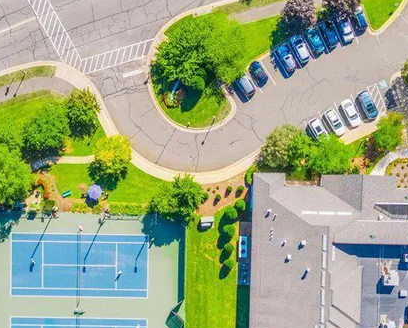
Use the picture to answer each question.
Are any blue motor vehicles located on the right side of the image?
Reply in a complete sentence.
Yes, I can see a blue motor vehicle on the right side of the image.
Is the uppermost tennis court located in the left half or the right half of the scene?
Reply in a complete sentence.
You can find the uppermost tennis court on the left side of the picture.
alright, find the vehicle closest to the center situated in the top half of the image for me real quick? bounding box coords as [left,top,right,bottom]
[234,71,257,101]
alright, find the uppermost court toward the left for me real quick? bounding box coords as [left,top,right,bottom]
[0,213,185,307]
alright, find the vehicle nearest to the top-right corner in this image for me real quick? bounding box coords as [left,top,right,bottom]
[352,7,370,35]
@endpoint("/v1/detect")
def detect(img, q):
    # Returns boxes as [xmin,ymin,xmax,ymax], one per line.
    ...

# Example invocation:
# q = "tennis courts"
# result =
[0,213,185,307]
[0,307,185,328]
